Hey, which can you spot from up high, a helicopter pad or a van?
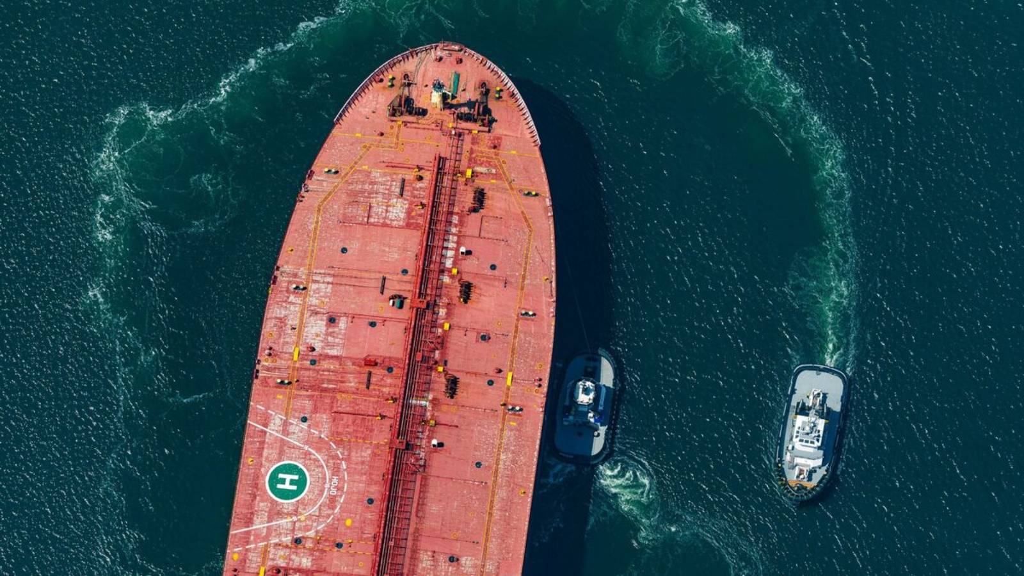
helicopter pad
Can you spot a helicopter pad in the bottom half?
Yes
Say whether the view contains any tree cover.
No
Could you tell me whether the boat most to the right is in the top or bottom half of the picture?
bottom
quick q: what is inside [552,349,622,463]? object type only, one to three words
boat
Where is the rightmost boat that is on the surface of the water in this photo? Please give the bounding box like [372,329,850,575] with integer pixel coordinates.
[775,364,849,505]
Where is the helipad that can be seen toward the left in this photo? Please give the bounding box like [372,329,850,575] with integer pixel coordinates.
[228,403,347,551]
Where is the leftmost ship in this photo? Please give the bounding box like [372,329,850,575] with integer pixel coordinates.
[222,41,557,576]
